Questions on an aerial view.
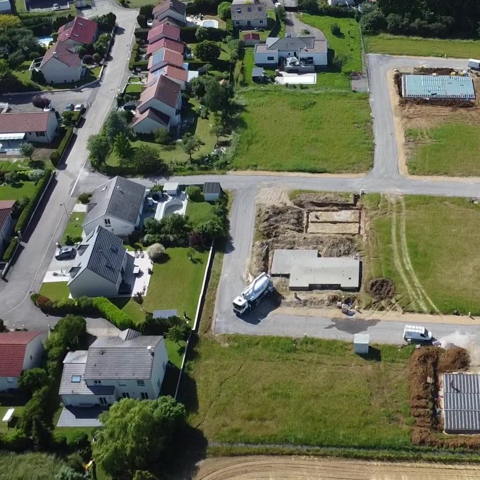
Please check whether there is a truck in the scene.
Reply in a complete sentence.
Yes, looking at the shot, I can spot a truck.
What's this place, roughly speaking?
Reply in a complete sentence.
It's a residential area.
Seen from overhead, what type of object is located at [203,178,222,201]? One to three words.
shed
